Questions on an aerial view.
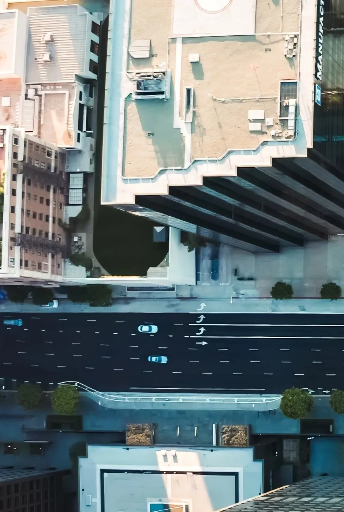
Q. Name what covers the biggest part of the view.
buildings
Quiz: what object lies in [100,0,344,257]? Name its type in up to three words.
building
